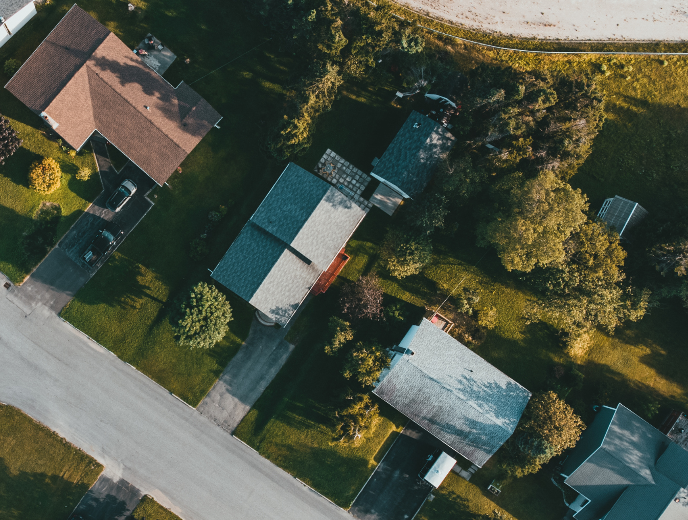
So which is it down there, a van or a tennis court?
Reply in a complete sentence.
It is a van that can be seen here.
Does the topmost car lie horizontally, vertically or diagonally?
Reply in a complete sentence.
Seen from above, the topmost car lies diagonally.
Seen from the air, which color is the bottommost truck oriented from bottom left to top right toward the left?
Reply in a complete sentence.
The bottommost truck oriented from bottom left to top right toward the left is black.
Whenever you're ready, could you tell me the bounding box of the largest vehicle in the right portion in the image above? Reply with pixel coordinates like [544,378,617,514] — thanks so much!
[421,443,459,492]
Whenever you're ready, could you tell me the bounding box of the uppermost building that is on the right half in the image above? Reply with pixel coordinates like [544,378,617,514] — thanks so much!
[369,110,458,201]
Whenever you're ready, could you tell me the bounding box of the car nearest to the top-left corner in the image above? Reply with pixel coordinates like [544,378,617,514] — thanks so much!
[104,176,138,215]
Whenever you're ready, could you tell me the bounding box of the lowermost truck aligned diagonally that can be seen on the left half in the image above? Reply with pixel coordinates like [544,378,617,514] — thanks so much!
[78,220,123,270]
